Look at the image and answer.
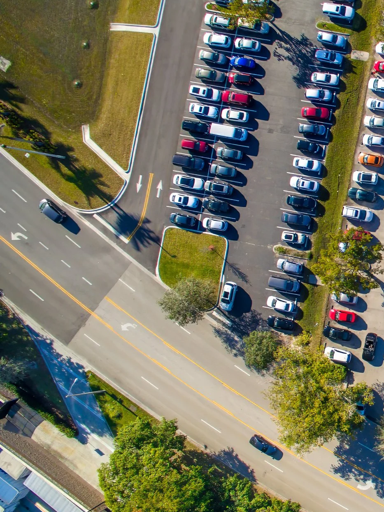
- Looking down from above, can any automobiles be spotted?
Yes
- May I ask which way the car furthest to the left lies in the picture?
on a diagonal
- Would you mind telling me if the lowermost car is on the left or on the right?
right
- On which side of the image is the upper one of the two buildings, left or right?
left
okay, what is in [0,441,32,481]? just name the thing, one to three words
building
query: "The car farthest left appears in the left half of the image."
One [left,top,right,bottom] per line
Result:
[41,197,68,226]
